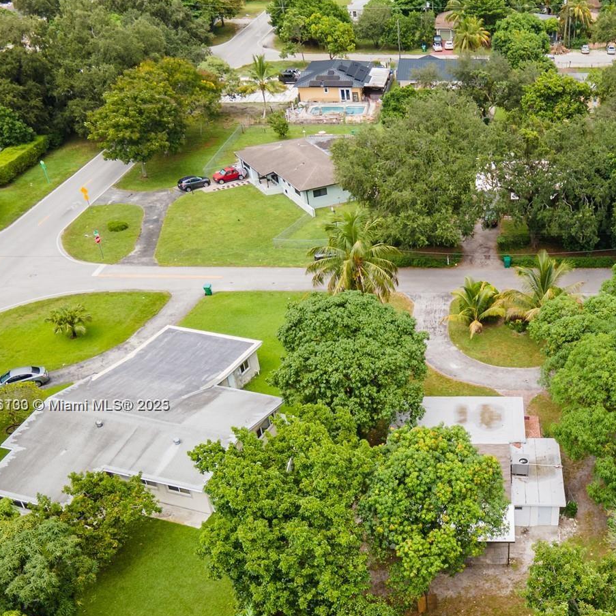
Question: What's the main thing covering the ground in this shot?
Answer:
trees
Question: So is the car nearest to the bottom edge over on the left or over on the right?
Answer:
left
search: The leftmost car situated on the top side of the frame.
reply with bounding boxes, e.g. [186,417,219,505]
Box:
[175,172,212,189]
